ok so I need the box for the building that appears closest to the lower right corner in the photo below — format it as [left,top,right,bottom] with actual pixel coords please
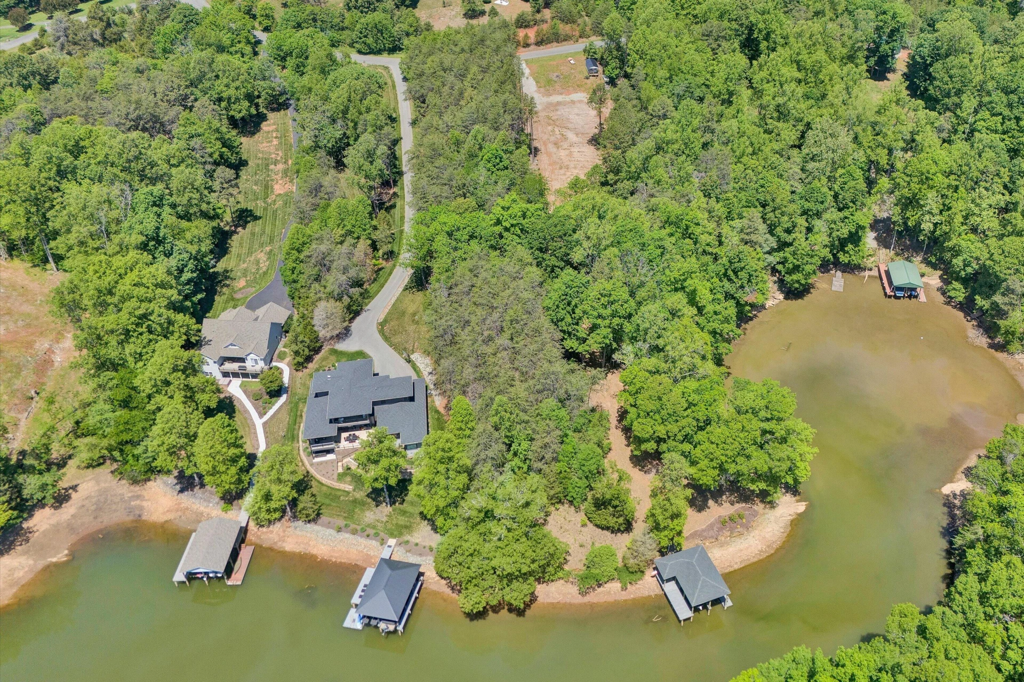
[651,545,733,625]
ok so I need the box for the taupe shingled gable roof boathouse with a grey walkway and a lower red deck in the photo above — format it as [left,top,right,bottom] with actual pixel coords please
[174,513,253,587]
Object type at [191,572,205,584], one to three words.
boat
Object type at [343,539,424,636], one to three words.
building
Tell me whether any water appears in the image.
Yes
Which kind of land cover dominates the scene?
trees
